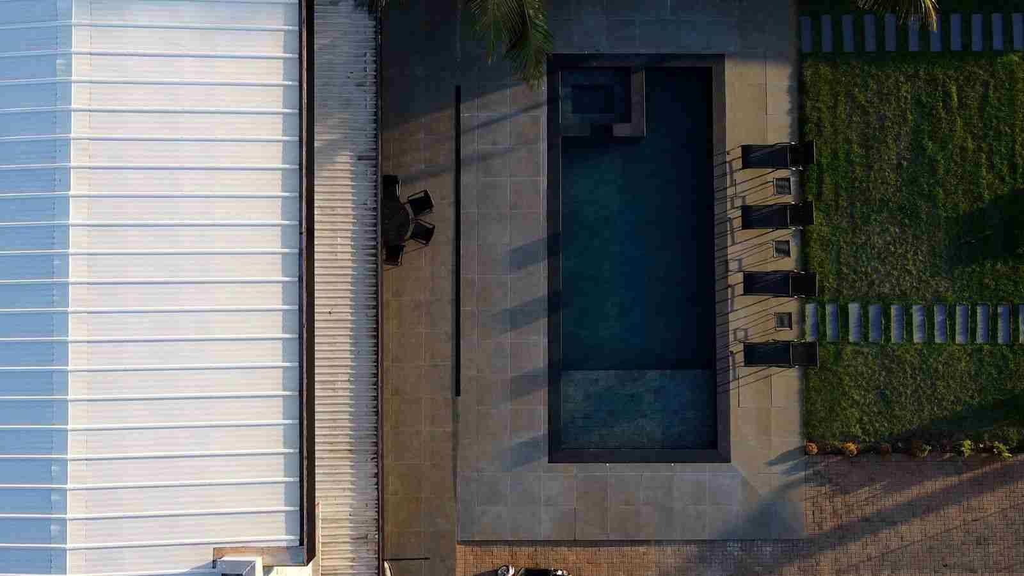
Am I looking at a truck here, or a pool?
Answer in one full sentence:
The one in the frame is a pool.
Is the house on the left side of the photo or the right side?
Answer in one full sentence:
The house is on the left side of the image.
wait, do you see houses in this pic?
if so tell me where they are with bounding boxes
[0,0,383,576]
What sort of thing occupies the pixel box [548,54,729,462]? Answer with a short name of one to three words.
swimming pool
